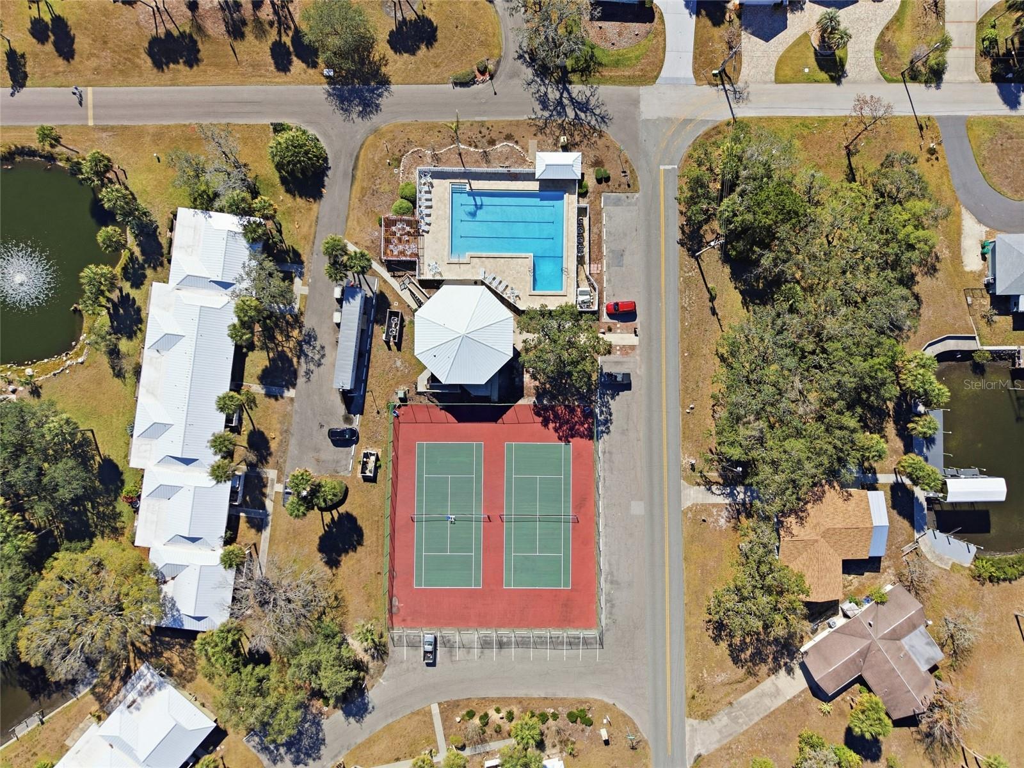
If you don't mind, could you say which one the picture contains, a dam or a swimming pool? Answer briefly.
swimming pool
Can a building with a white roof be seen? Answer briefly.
Yes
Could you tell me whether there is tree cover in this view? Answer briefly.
Yes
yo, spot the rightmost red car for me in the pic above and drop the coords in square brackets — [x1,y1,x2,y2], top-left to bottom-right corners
[607,301,637,314]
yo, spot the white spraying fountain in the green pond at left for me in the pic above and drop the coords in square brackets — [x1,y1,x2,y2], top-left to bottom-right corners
[0,239,61,319]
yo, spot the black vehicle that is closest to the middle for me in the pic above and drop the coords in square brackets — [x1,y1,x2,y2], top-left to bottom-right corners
[601,371,632,385]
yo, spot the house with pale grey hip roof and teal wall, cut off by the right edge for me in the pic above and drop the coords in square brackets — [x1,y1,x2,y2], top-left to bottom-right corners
[990,233,1024,312]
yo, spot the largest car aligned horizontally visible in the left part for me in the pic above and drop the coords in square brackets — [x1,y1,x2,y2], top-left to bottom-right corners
[326,429,358,443]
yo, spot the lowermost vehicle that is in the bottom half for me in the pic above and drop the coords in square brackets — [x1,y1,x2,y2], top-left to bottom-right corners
[422,635,435,665]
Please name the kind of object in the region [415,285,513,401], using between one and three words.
building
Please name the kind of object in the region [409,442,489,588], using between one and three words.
tennis court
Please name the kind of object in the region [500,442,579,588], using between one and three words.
tennis court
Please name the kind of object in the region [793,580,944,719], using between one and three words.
house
